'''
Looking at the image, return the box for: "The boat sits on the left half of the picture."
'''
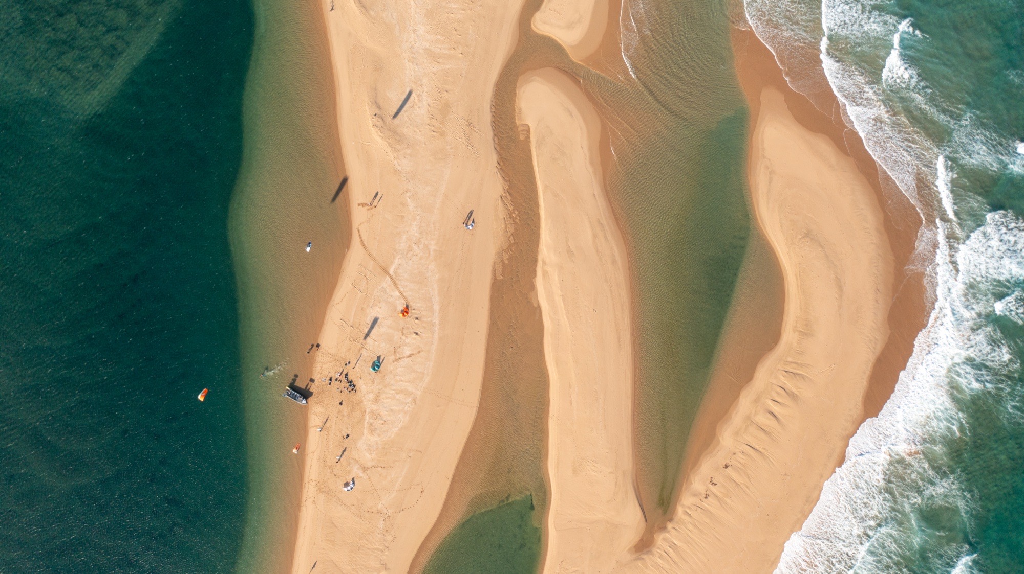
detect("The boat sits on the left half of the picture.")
[283,391,306,406]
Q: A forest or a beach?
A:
beach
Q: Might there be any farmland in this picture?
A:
No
